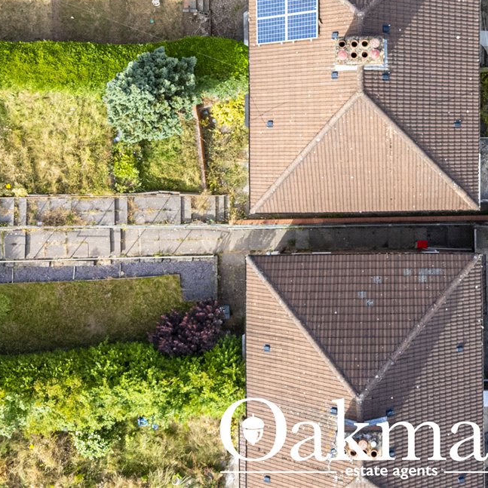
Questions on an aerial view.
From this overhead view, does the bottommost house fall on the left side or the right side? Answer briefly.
right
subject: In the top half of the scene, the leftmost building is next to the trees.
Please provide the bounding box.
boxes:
[245,0,482,216]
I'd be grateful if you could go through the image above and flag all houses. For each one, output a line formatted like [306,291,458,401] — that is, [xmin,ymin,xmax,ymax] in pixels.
[244,245,484,488]
[245,0,482,216]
